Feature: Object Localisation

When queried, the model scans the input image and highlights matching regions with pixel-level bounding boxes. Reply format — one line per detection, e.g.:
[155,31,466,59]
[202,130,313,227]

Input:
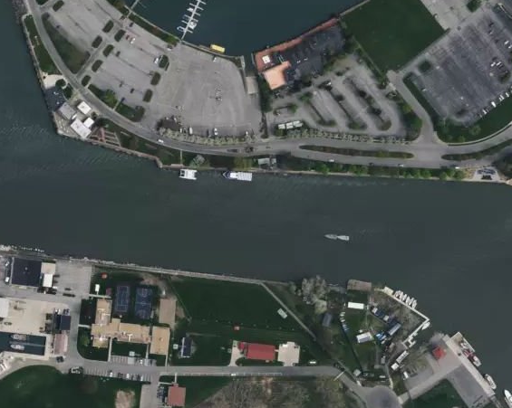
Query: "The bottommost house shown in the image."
[168,387,188,407]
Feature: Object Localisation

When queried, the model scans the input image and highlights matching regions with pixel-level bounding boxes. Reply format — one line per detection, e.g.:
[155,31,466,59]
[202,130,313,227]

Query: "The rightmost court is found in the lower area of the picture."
[135,288,152,319]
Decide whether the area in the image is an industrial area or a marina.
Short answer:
marina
